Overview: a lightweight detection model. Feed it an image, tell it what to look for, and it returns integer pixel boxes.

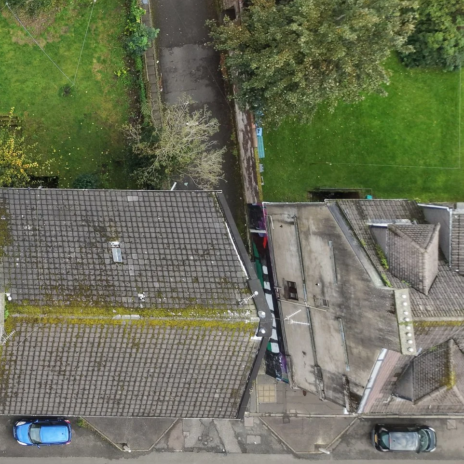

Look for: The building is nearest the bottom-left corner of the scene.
[0,187,272,422]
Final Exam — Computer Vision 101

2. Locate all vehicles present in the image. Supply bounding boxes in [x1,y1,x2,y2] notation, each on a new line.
[13,418,71,450]
[369,422,432,457]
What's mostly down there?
buildings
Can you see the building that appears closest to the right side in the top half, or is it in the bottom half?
bottom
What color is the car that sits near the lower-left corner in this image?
blue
